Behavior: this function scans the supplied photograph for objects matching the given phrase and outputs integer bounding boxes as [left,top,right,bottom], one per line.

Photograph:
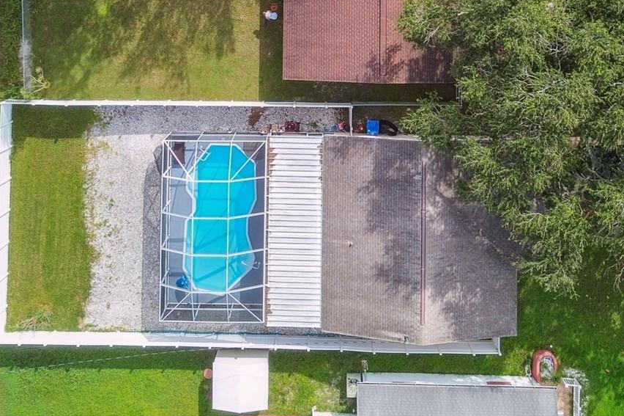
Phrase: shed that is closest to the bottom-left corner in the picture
[213,348,269,414]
